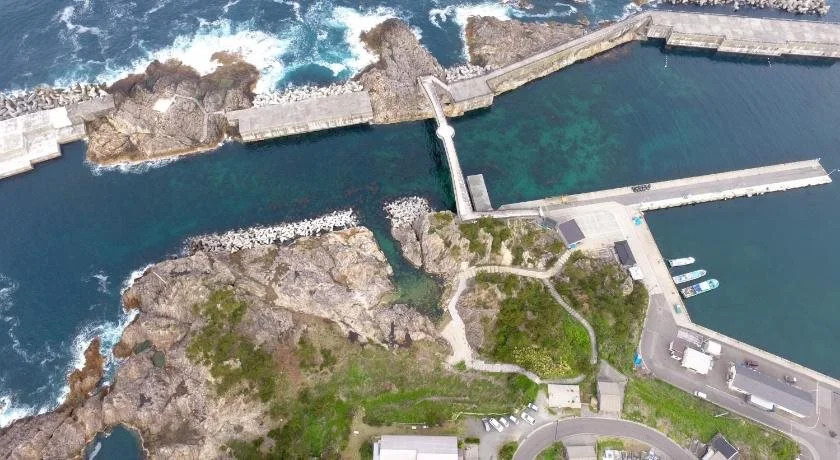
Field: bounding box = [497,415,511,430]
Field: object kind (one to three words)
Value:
vehicle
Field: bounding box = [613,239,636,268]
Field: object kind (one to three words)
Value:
shed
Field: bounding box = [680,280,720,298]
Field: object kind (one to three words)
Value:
boat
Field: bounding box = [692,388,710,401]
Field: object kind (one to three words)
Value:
vehicle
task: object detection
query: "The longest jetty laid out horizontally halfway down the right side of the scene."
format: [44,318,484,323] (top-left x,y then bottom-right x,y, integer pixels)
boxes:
[501,159,831,215]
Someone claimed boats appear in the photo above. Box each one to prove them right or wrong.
[673,270,707,283]
[680,280,720,298]
[668,257,696,266]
